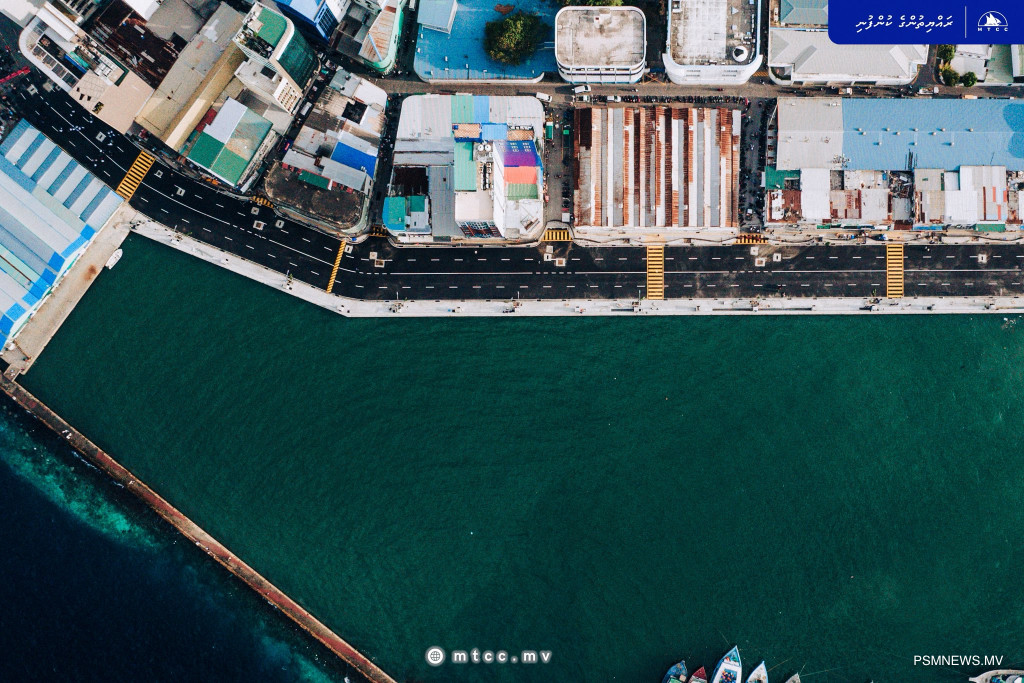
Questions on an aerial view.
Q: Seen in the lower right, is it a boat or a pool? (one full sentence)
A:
Visible in the lower right is a boat.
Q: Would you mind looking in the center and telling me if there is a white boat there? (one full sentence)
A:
No, no white boat appears in the center.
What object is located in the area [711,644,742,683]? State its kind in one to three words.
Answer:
boat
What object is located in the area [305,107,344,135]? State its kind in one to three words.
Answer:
house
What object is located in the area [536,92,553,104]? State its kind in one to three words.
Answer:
vehicle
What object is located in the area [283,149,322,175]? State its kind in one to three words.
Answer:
building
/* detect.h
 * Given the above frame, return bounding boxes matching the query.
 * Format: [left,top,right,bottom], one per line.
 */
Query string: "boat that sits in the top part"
[106,249,122,270]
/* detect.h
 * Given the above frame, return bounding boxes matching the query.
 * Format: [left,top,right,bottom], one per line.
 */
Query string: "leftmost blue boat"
[658,660,685,683]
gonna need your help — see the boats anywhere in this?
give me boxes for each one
[687,665,705,683]
[658,660,685,683]
[106,249,122,270]
[970,668,1024,683]
[781,671,798,683]
[741,660,765,683]
[711,644,742,683]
